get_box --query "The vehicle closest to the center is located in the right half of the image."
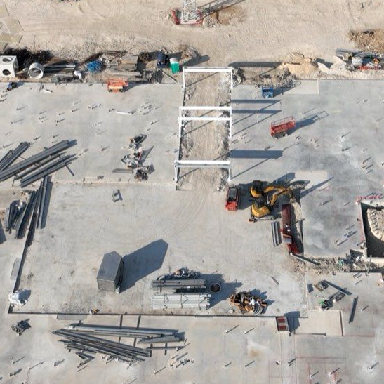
[223,185,239,212]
